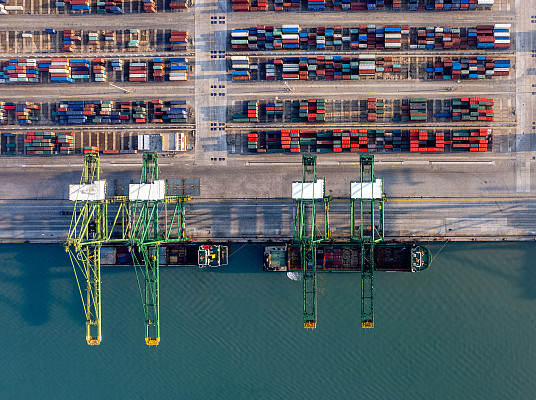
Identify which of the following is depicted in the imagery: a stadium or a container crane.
container crane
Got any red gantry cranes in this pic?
No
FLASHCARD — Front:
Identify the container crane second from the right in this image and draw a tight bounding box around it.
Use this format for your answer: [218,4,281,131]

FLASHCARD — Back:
[292,157,334,330]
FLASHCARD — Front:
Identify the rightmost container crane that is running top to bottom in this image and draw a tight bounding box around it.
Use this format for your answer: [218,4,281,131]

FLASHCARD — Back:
[348,157,387,330]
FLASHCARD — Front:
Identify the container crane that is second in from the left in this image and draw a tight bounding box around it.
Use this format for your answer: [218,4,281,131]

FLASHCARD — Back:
[131,157,193,345]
